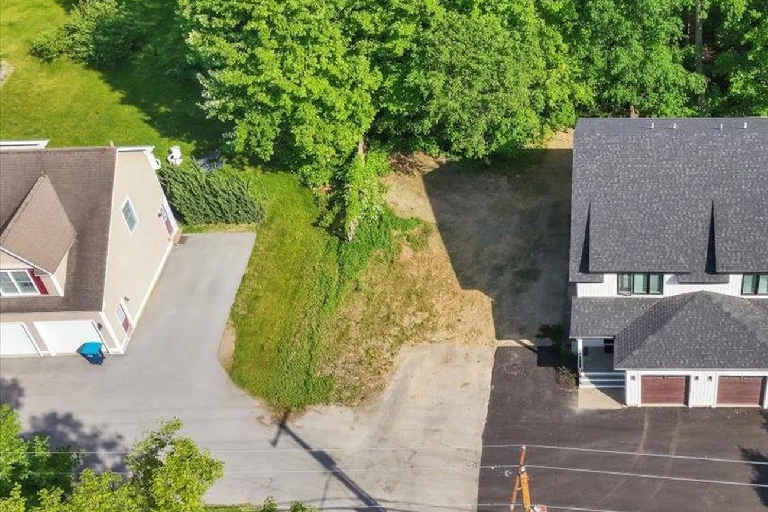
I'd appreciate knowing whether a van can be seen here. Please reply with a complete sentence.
No, the picture doesn't show any van.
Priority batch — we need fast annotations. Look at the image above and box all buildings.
[0,139,193,358]
[569,115,768,411]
